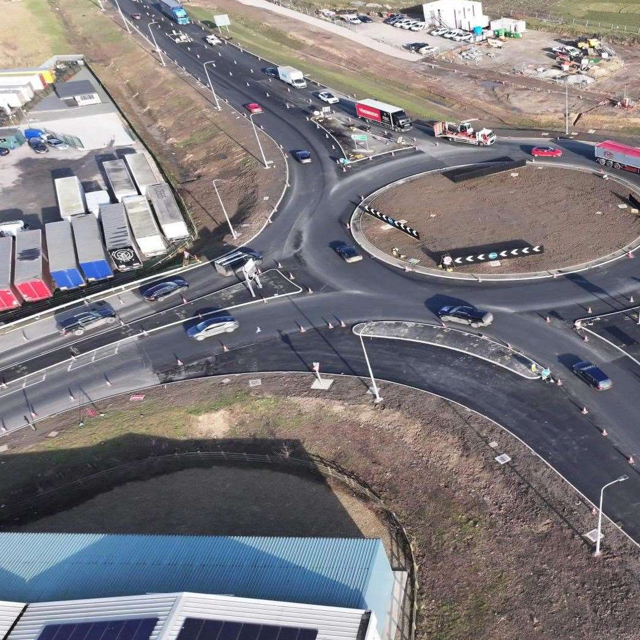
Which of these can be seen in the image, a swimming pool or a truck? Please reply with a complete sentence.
I can see a truck in this picture.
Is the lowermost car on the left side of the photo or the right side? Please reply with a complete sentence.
You can find the lowermost car on the right side of the picture.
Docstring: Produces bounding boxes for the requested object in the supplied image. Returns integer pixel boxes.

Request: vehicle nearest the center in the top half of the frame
[332,240,363,261]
